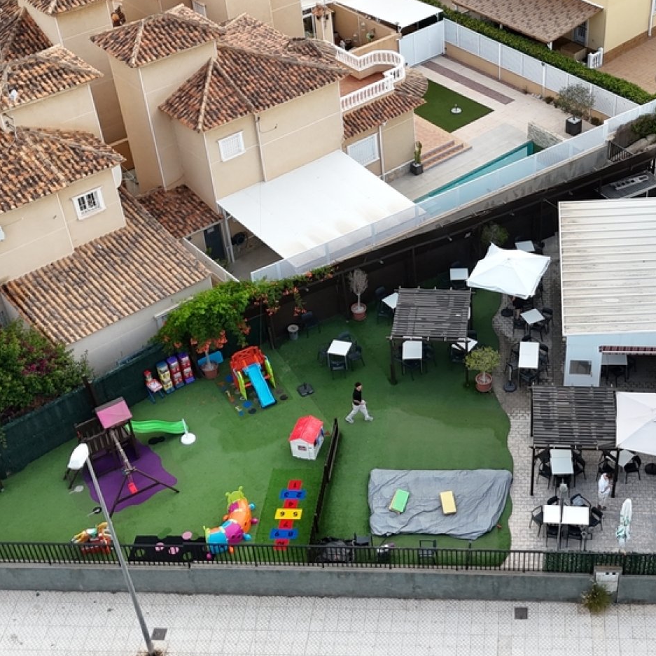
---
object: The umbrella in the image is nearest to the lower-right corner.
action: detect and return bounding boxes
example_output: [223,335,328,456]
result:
[611,499,633,555]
